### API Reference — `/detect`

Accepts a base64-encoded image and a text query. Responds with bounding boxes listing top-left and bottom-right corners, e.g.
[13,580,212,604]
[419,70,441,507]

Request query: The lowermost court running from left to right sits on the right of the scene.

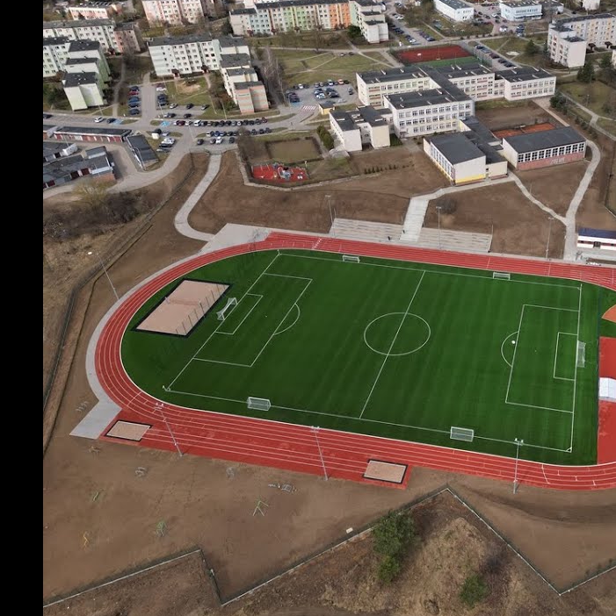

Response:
[494,122,557,138]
